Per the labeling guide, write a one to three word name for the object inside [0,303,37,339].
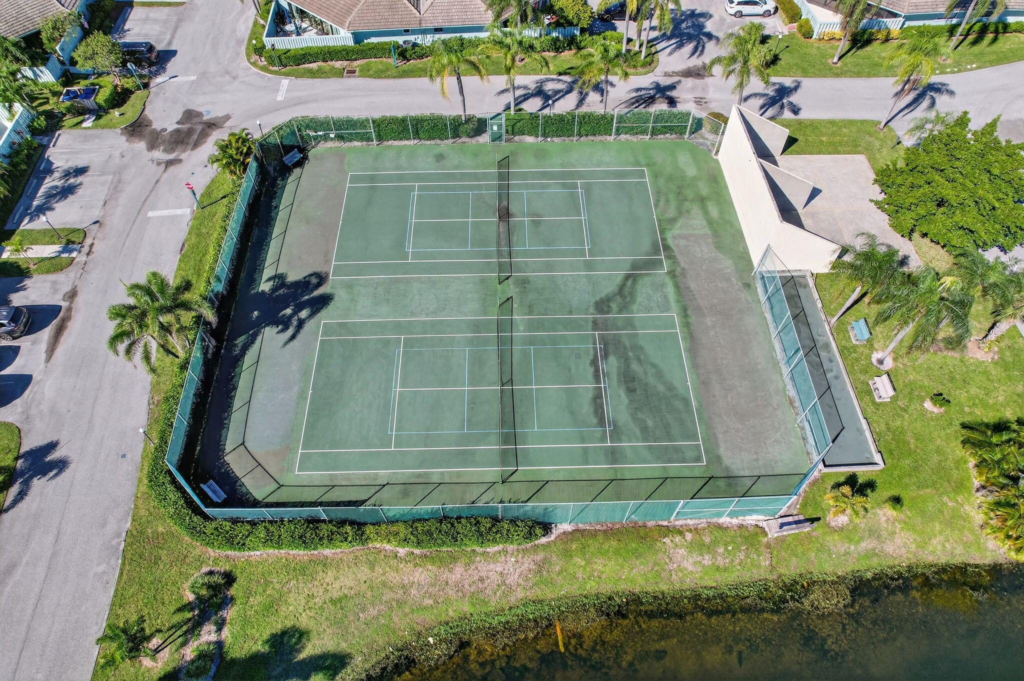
car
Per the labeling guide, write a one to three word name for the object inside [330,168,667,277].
tennis court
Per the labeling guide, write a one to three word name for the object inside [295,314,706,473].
tennis court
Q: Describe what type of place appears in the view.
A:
sports ground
